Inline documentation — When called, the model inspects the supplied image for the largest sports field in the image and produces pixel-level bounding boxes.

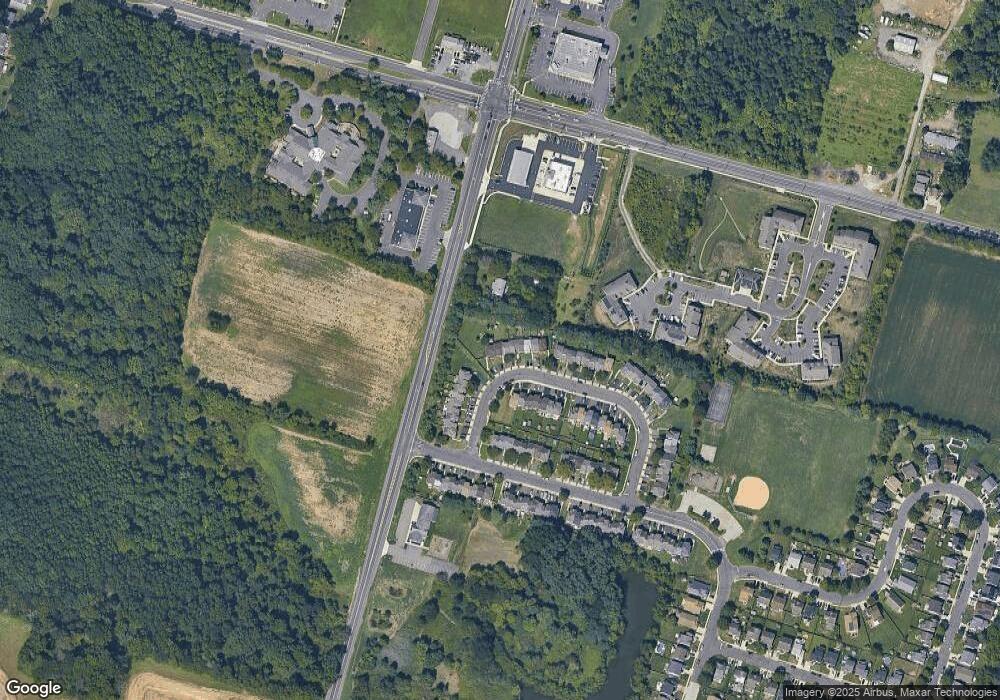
[717,387,881,535]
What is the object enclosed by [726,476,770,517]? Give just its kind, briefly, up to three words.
baseball field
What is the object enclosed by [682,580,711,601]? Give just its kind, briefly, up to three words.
house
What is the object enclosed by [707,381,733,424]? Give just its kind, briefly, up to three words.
tennis court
